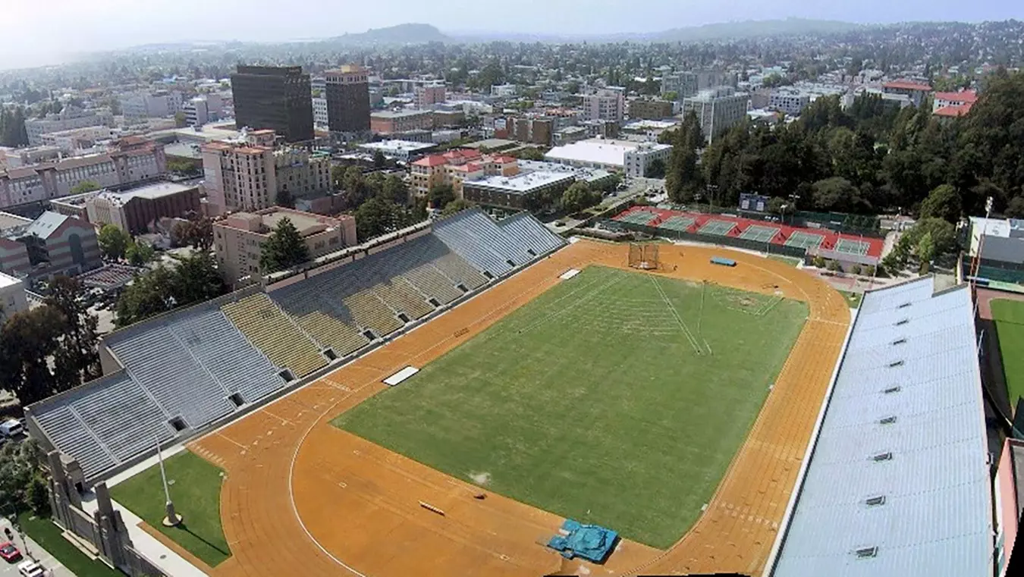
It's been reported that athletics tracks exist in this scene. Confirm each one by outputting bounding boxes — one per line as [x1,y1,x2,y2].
[185,240,851,577]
